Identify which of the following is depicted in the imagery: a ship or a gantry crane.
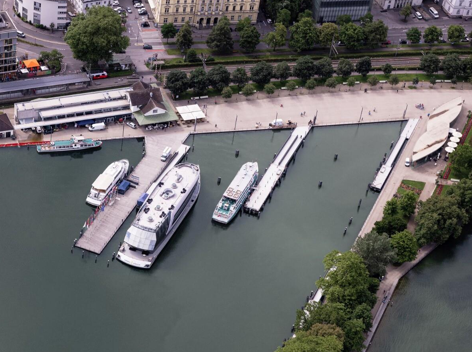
ship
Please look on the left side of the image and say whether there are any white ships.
Yes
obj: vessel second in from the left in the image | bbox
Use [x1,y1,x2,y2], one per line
[87,157,127,207]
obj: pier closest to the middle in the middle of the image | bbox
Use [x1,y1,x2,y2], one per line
[245,127,312,211]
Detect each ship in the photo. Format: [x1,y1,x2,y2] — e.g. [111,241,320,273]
[87,157,127,207]
[36,135,102,153]
[117,160,199,268]
[214,161,257,224]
